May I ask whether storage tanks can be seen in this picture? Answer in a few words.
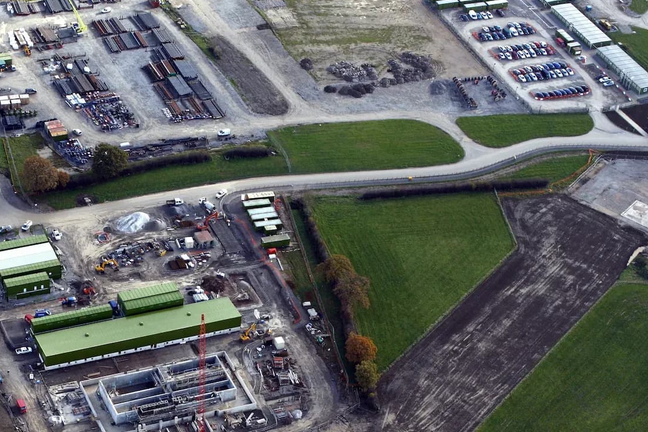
Yes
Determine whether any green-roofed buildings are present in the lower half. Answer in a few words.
Yes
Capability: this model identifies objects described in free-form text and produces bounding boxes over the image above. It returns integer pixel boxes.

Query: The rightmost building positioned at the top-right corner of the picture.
[596,45,648,94]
